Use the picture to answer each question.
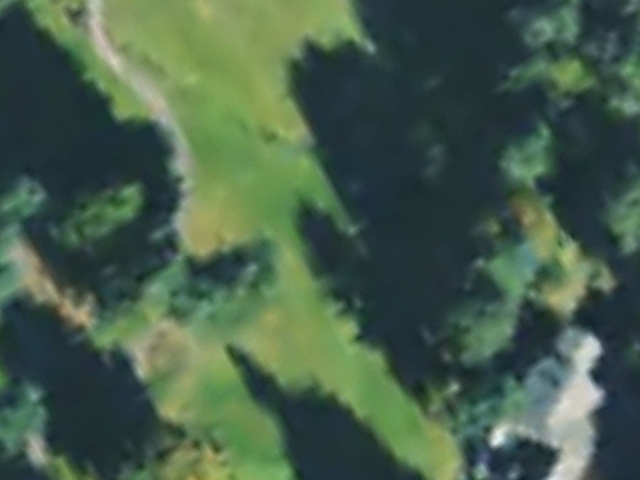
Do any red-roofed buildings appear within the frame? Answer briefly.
No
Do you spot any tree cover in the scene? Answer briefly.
Yes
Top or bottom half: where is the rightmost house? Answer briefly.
bottom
